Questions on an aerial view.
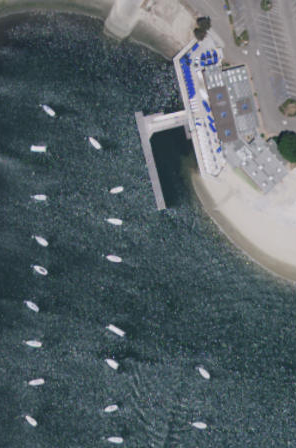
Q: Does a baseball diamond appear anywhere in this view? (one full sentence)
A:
No, the frame has no baseball diamond in it.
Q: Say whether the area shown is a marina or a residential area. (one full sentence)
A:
What you see here is a marina.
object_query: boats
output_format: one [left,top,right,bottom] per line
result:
[24,414,38,427]
[106,324,124,336]
[104,437,124,443]
[104,218,122,224]
[32,235,47,246]
[196,366,210,380]
[23,300,39,312]
[40,104,55,117]
[86,136,101,150]
[104,404,118,411]
[22,340,41,346]
[28,378,45,384]
[110,185,123,192]
[190,422,206,428]
[102,358,119,370]
[31,264,48,276]
[104,256,122,262]
[28,146,46,152]
[32,194,46,200]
